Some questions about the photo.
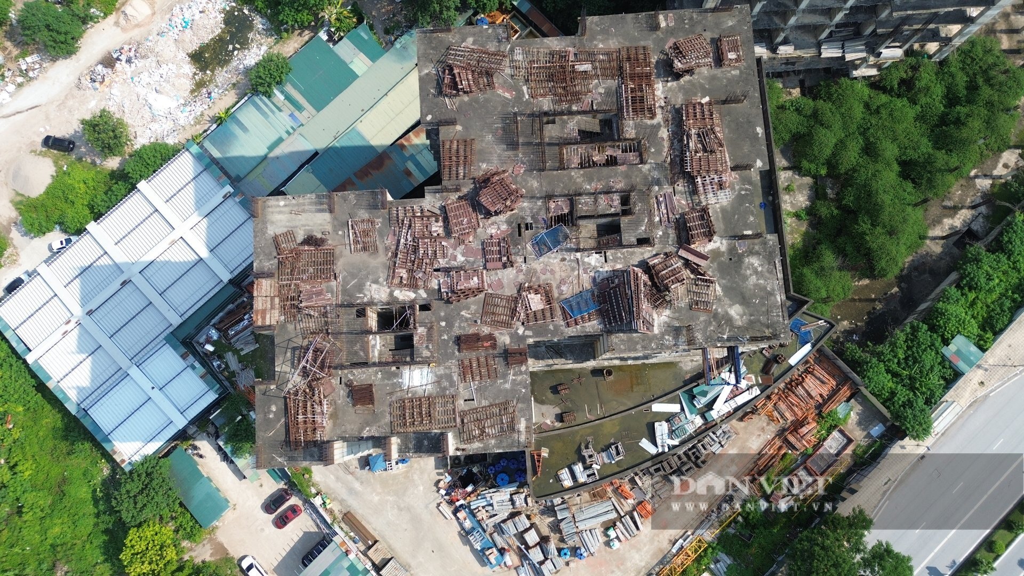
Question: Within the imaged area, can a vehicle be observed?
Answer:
Yes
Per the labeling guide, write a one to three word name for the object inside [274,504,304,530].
car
